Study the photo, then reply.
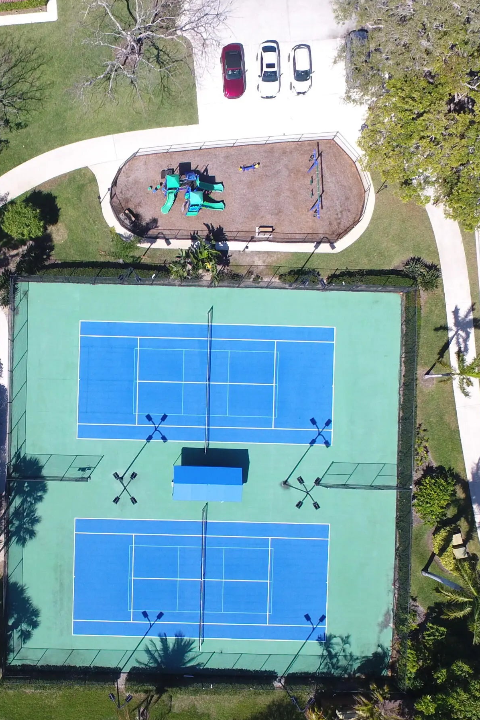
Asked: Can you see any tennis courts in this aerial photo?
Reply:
Yes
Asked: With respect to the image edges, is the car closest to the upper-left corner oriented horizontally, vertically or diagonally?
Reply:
vertically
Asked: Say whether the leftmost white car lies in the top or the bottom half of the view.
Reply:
top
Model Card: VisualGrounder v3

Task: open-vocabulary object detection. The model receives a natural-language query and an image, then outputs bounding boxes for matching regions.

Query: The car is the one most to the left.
[224,40,249,97]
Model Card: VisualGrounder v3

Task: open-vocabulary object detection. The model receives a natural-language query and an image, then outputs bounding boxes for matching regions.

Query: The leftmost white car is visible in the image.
[259,39,285,95]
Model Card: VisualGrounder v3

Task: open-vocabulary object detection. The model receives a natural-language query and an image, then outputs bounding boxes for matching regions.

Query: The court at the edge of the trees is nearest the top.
[9,282,402,485]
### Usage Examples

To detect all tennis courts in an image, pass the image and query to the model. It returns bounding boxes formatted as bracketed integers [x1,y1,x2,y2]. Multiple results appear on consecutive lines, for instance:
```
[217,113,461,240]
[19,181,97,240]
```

[9,282,402,485]
[5,475,396,679]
